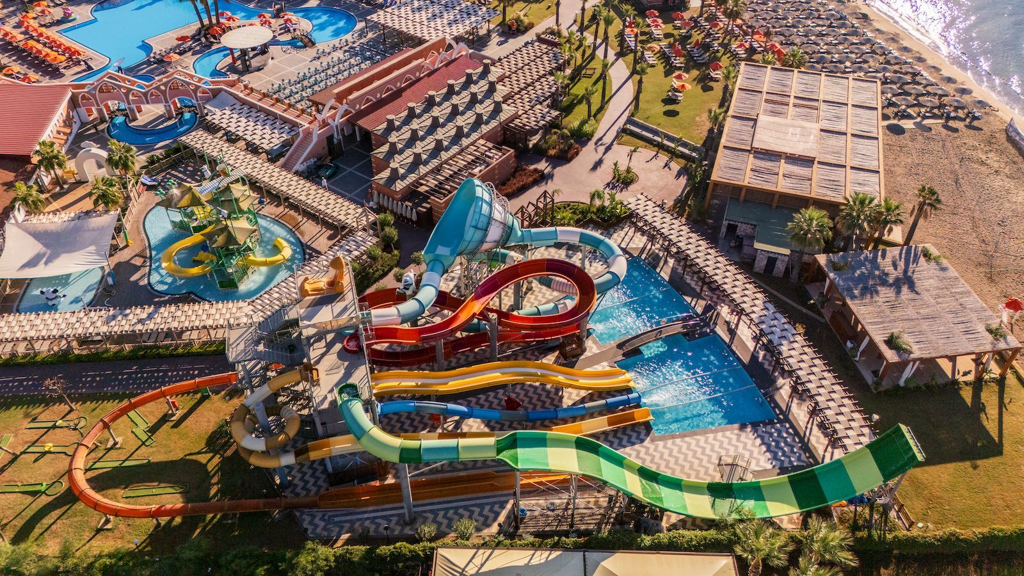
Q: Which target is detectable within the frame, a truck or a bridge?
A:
bridge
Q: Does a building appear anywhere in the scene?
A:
Yes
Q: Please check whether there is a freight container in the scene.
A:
No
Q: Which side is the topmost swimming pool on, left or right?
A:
left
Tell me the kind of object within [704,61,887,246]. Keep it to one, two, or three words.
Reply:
building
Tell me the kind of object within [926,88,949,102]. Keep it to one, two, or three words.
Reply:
umbrella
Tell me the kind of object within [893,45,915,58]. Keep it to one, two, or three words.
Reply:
umbrella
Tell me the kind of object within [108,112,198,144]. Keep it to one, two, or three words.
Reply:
swimming pool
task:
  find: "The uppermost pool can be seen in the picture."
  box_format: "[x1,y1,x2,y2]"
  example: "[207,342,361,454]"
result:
[59,0,356,87]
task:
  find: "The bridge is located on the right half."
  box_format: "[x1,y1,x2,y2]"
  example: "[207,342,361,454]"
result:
[612,311,715,357]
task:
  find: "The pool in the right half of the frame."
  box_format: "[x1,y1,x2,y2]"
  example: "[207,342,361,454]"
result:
[592,259,774,434]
